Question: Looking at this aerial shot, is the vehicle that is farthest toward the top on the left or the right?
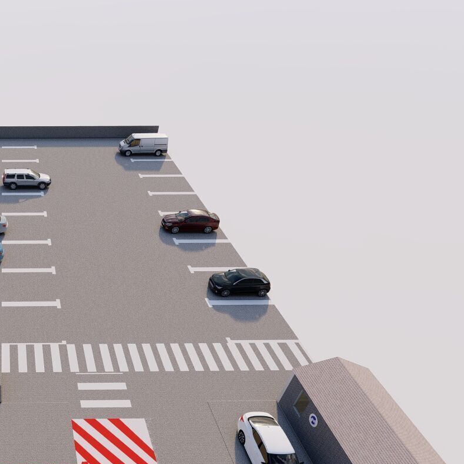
left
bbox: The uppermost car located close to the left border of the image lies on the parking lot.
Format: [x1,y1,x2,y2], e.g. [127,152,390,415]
[3,167,52,190]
